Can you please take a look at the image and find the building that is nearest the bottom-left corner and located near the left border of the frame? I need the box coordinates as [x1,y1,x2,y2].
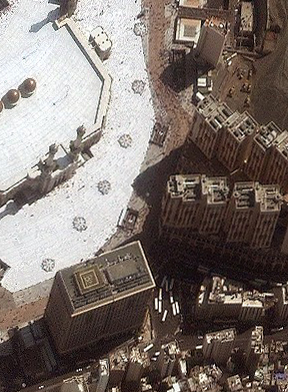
[0,320,66,392]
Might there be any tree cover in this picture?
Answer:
No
